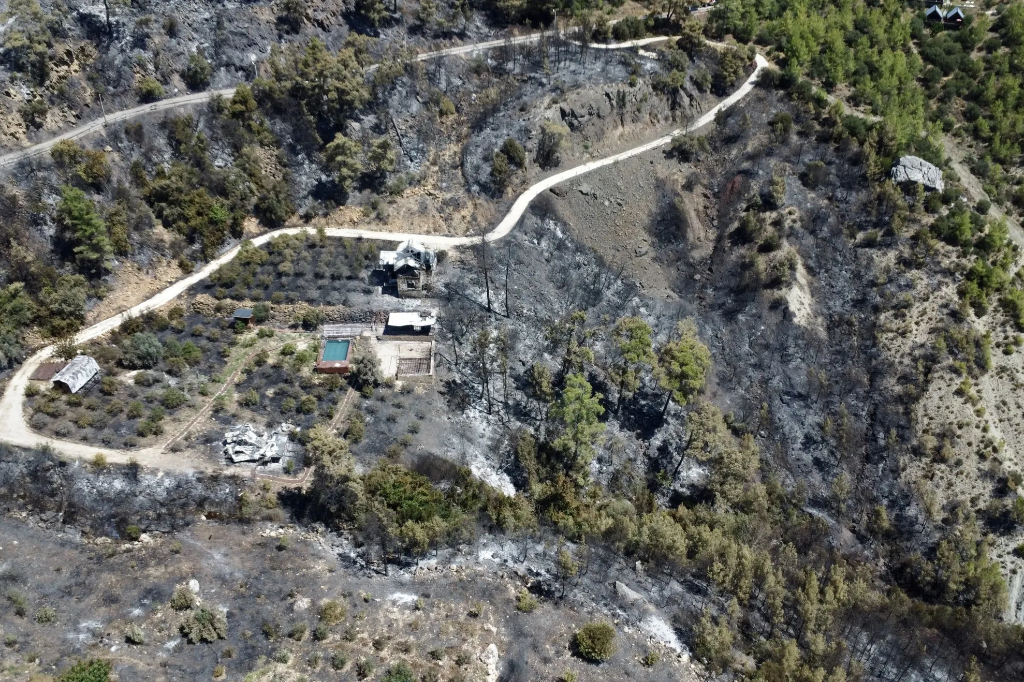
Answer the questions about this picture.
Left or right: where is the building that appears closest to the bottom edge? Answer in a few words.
left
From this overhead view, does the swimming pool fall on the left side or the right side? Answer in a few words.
left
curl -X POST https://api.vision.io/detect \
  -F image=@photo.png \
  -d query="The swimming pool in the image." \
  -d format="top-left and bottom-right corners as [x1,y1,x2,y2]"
[317,337,353,375]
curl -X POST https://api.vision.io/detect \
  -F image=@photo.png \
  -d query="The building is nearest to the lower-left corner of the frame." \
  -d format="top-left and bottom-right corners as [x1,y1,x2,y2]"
[50,348,113,392]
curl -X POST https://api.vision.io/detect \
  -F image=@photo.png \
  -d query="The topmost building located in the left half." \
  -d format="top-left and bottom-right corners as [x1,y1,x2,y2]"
[378,235,437,298]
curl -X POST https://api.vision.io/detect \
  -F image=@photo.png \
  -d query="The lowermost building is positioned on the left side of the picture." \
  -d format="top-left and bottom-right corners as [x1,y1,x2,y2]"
[225,424,305,470]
